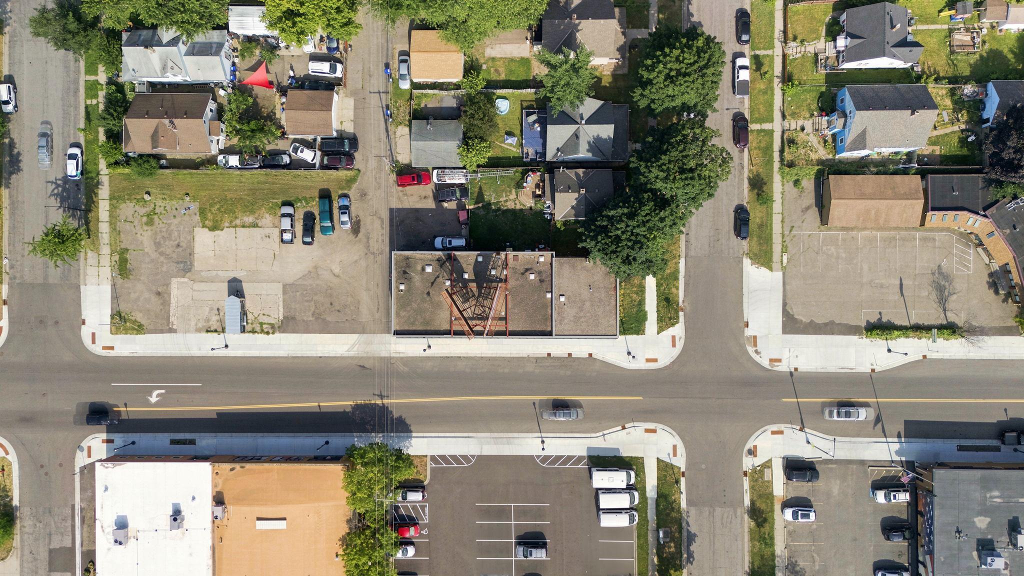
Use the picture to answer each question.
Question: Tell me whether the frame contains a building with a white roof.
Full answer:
Yes, a building with a white roof appears in the view.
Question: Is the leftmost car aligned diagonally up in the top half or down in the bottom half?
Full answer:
The leftmost car aligned diagonally is in the top half of the image.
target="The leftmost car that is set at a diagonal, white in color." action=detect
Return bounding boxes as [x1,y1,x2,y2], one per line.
[289,141,316,164]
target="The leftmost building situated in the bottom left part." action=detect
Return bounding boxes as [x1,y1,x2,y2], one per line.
[95,455,225,576]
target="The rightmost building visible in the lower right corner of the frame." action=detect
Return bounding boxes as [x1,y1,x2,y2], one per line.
[912,460,1024,576]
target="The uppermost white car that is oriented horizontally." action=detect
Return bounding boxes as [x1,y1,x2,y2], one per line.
[308,60,343,77]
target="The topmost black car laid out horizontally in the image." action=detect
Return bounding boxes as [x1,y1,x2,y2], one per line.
[302,76,338,92]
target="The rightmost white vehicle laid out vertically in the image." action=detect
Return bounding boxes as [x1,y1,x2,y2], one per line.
[733,56,751,98]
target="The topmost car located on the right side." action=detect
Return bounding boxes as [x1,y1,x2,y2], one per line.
[735,11,752,46]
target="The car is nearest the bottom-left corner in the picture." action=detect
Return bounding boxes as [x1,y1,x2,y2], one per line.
[90,411,123,426]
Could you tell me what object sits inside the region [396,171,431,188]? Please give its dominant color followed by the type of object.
red car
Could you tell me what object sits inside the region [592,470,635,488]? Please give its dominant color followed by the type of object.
white vehicle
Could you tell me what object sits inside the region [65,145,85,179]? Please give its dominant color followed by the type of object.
white car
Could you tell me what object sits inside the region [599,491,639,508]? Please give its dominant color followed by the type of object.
white vehicle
